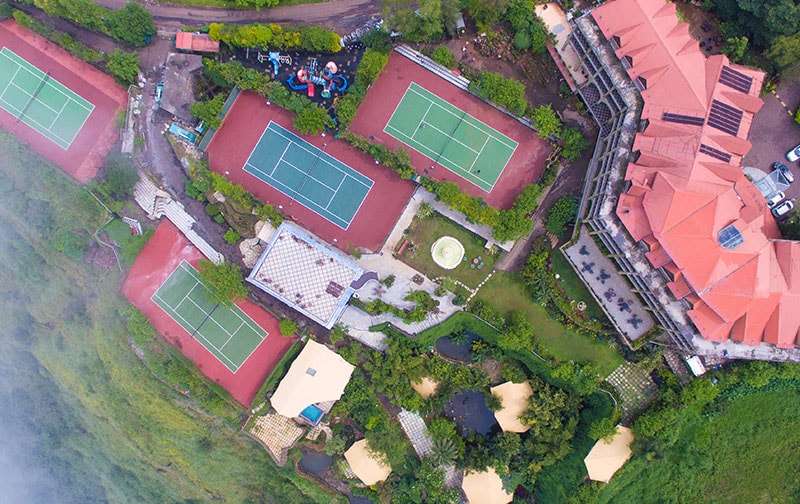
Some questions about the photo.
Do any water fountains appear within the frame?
Yes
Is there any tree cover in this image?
Yes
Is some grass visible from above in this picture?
Yes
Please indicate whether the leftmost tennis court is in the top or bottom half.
top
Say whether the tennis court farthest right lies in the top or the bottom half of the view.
top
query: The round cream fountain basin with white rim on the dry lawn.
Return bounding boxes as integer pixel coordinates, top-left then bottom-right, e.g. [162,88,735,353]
[430,235,465,270]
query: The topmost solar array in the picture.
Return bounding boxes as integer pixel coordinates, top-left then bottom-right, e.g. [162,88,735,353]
[719,66,752,93]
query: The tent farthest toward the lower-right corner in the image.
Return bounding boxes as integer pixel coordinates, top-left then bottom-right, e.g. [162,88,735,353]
[584,424,633,482]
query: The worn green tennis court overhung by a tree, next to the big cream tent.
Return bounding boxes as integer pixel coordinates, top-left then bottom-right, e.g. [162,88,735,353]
[123,221,305,407]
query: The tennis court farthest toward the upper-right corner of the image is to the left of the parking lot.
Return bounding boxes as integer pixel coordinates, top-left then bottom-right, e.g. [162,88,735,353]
[346,46,557,211]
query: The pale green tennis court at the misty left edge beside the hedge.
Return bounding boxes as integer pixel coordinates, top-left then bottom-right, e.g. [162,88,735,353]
[0,18,127,183]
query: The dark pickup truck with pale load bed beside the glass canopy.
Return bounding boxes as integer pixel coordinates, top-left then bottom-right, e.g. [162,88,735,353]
[771,159,799,183]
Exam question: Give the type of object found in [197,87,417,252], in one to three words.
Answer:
tennis court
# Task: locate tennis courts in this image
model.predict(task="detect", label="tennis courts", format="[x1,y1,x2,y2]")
[0,18,127,183]
[123,221,305,407]
[346,46,557,211]
[197,87,417,252]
